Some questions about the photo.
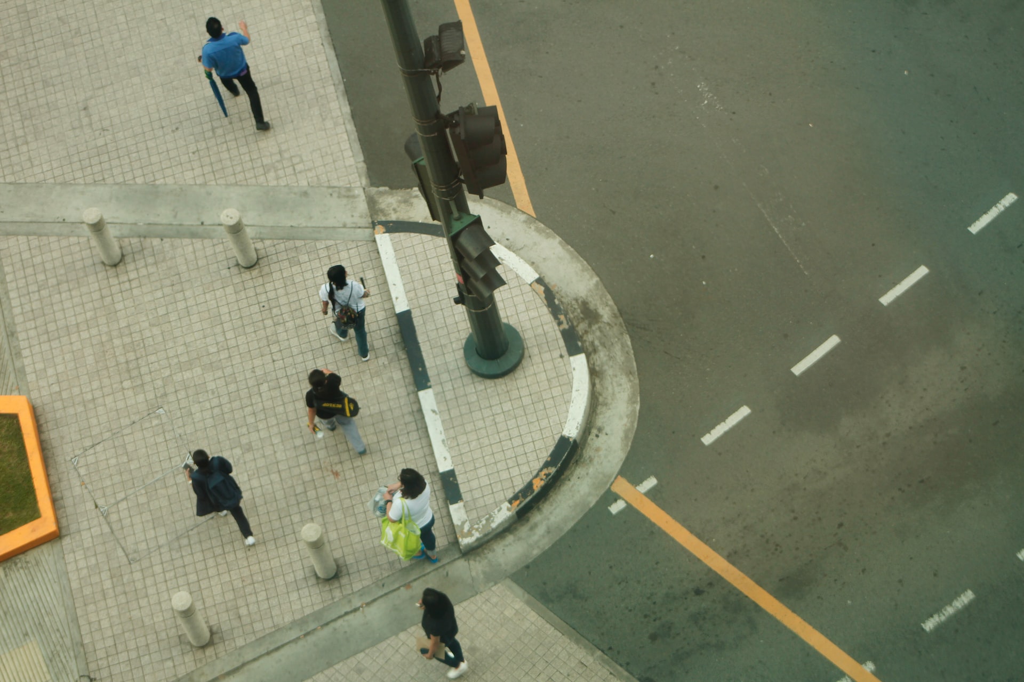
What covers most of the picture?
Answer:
paved ground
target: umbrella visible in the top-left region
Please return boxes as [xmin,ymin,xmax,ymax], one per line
[198,62,228,120]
